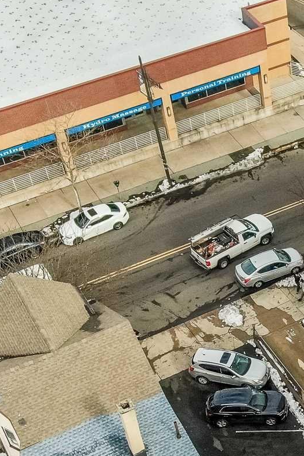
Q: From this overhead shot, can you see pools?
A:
No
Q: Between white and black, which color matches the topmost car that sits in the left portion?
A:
white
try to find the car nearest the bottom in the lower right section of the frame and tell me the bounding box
[204,385,287,427]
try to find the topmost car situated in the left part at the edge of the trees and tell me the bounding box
[56,204,131,247]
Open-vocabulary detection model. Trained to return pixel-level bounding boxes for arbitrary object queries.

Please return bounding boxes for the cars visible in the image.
[204,385,287,427]
[231,248,304,291]
[56,204,131,247]
[186,346,268,388]
[0,232,44,269]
